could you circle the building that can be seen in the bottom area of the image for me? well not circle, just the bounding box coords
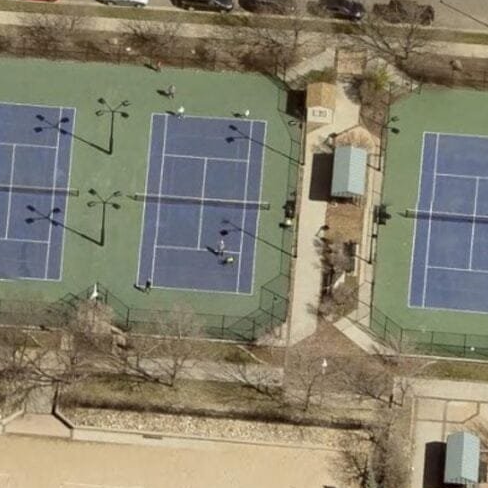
[441,431,483,488]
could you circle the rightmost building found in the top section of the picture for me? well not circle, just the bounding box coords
[327,144,369,212]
